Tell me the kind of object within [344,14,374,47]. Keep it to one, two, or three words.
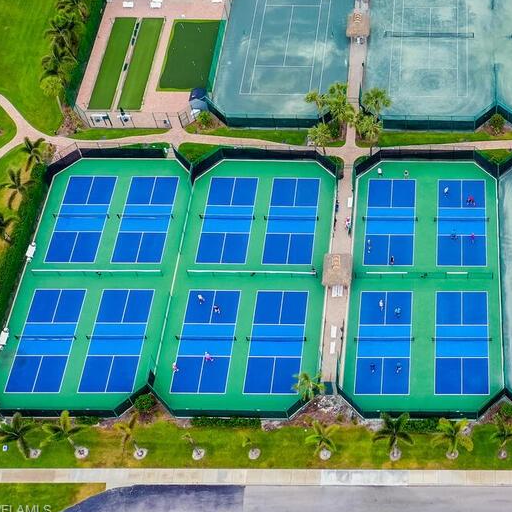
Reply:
shed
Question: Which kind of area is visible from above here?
sports ground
